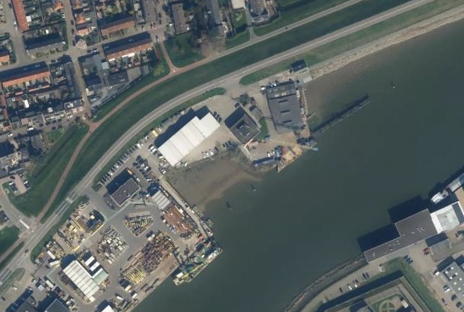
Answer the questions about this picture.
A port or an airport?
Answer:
port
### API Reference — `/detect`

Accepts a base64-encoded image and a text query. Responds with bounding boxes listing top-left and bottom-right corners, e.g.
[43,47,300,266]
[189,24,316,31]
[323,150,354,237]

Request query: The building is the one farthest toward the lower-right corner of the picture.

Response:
[443,262,464,298]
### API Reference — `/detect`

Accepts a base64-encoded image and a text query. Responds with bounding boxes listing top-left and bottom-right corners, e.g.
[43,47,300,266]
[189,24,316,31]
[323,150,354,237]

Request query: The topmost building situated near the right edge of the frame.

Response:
[430,202,464,233]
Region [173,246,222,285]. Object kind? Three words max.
ship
